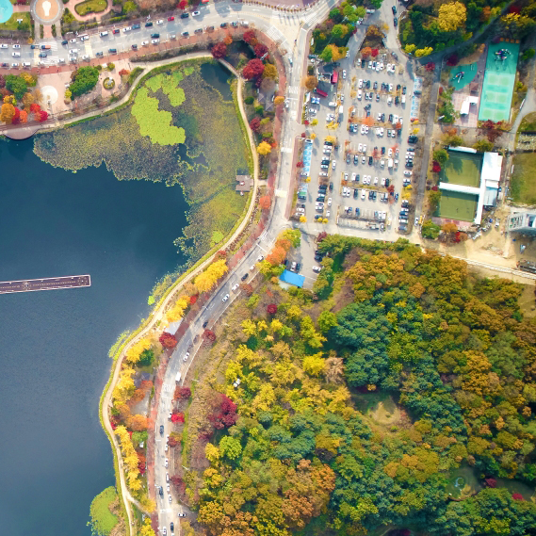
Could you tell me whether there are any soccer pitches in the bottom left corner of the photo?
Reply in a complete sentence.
No, I can find no soccer pitch in the bottom left corner of the photo.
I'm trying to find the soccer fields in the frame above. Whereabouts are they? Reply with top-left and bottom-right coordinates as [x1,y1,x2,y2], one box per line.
[440,152,481,188]
[433,190,479,221]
